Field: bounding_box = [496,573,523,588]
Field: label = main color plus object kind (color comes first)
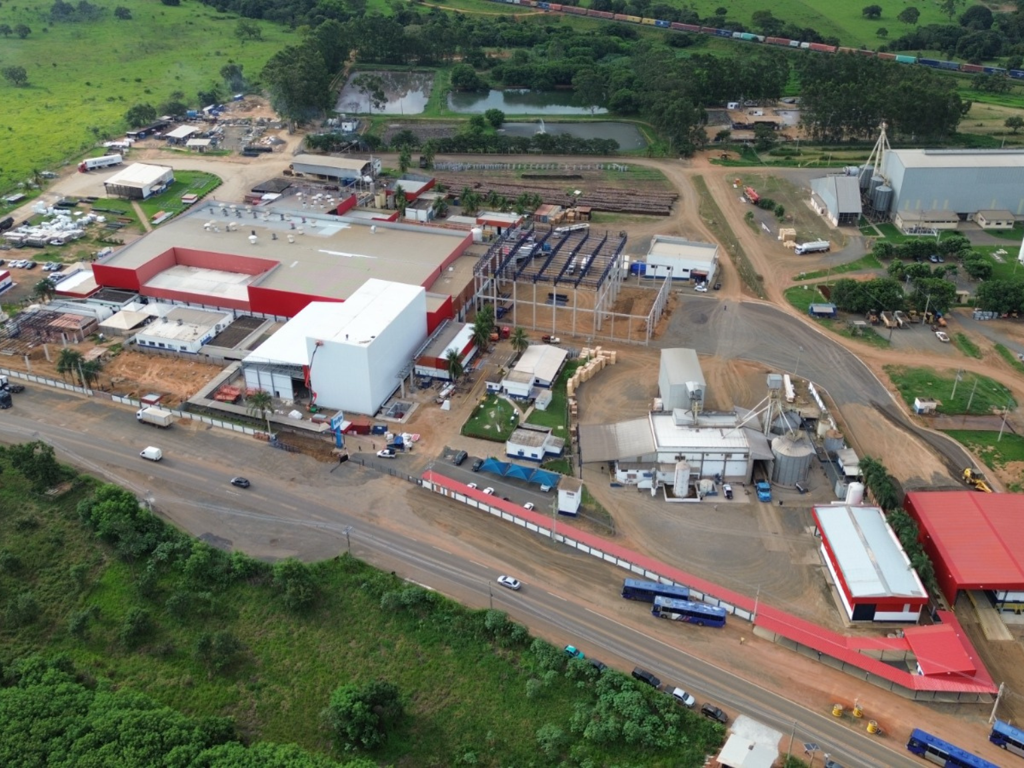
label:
white car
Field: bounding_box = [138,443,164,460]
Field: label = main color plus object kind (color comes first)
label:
white vehicle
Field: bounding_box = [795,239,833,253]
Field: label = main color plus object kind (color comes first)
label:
white vehicle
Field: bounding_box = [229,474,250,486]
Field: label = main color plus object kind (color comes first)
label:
gray vehicle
